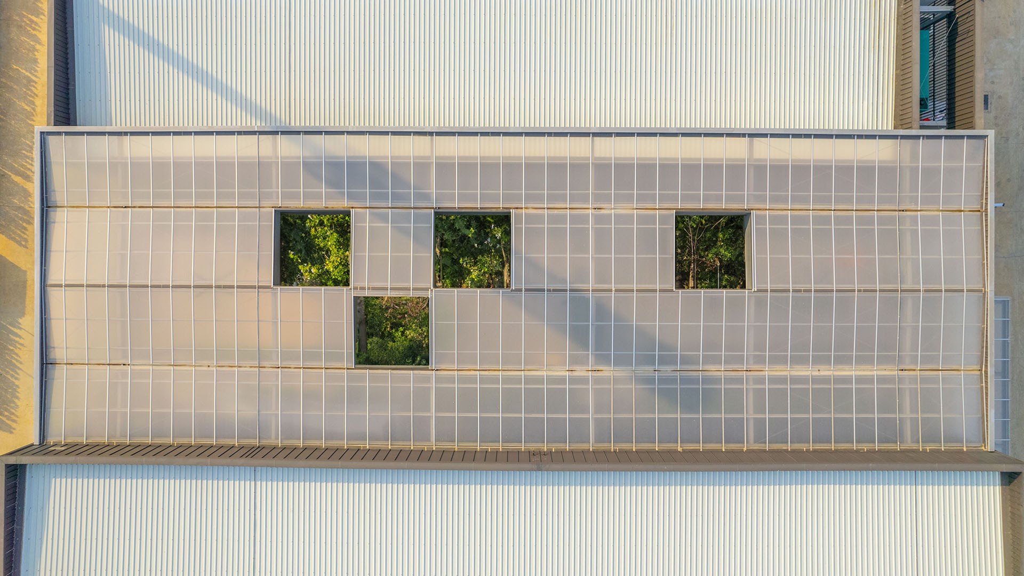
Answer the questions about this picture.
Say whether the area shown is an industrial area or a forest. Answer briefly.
industrial area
